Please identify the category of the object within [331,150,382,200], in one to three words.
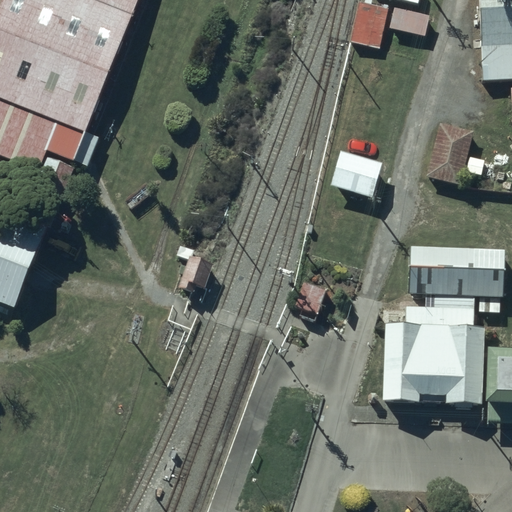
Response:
building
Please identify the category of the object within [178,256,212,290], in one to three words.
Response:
house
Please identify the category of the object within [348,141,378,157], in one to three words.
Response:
car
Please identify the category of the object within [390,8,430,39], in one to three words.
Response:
shed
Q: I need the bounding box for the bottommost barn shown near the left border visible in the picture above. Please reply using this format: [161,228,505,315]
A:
[0,220,42,319]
